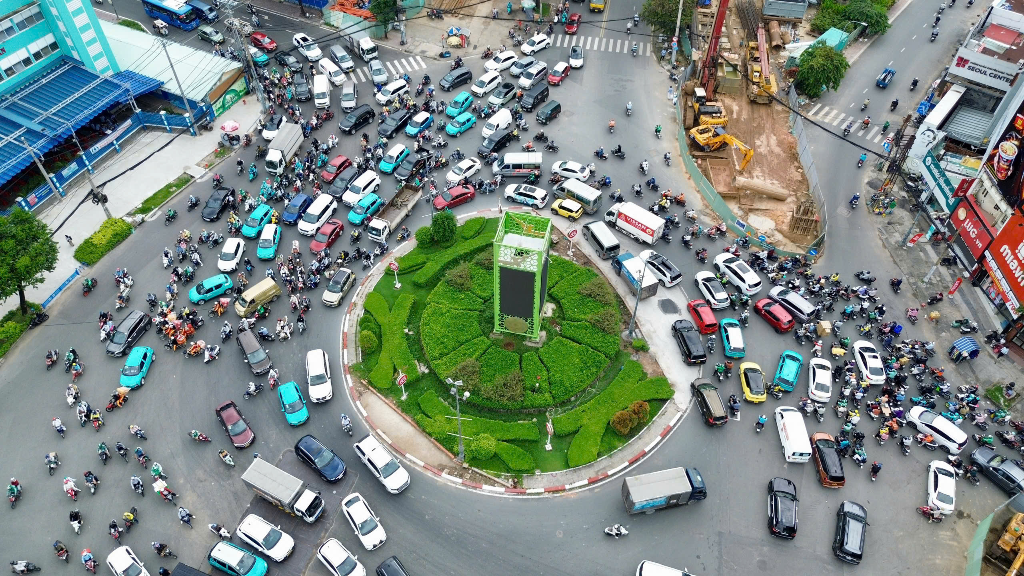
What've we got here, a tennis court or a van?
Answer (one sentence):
I can see a van in this picture.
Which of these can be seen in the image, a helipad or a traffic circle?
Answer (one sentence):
I can see a traffic circle in this picture.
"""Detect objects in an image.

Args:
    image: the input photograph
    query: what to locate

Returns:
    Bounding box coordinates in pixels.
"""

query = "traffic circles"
[344,206,700,494]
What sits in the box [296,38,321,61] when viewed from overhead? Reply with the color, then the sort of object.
white car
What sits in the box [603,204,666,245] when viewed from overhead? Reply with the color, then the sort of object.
white truck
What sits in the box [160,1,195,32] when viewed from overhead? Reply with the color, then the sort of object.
blue bus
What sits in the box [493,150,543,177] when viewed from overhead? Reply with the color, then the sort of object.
white vehicle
